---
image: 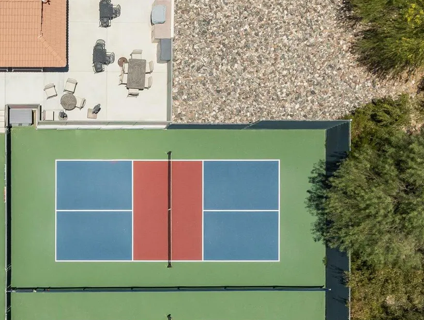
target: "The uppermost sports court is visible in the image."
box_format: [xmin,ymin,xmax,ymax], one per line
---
[9,127,325,290]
